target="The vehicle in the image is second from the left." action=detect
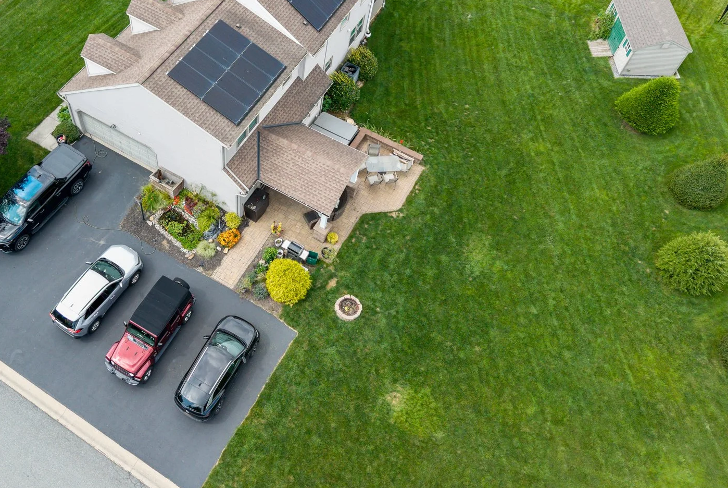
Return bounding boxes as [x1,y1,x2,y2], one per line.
[50,243,143,340]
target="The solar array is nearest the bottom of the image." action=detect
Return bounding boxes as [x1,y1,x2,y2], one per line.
[168,19,285,123]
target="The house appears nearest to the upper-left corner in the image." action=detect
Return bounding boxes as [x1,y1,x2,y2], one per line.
[54,0,387,214]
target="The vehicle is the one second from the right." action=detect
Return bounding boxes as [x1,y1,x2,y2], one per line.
[102,279,194,386]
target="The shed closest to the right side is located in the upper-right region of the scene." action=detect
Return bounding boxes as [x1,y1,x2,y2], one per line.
[596,0,693,79]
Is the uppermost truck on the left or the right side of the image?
left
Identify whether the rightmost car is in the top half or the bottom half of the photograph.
bottom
